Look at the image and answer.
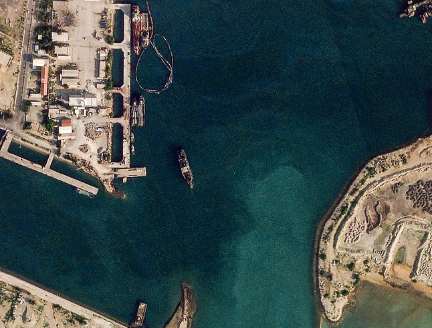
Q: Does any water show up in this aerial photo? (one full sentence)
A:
Yes, water can be seen from above here.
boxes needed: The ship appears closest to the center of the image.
[176,148,191,187]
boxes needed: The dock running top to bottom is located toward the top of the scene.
[112,3,132,170]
